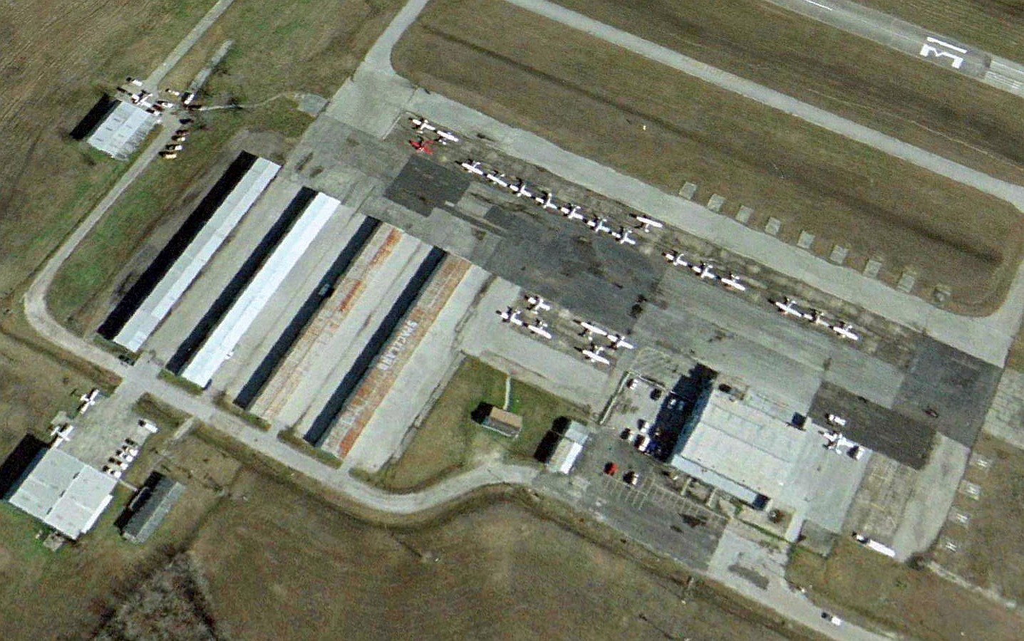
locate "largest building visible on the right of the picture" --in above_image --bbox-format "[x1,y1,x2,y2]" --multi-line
[668,363,811,509]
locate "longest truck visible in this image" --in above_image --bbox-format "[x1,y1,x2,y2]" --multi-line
[860,536,895,557]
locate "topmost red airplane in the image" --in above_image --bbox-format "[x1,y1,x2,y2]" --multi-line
[410,136,434,154]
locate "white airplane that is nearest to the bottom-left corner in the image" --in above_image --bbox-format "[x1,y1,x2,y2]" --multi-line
[54,425,74,447]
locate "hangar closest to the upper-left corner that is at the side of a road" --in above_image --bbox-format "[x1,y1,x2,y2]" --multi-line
[83,101,156,161]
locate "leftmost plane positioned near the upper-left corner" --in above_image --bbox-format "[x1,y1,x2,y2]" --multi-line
[132,92,151,107]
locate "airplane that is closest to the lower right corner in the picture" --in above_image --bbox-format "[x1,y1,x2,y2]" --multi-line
[824,430,856,455]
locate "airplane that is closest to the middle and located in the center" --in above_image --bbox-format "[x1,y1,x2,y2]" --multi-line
[501,309,523,325]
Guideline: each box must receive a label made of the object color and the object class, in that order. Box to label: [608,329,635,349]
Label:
white airplane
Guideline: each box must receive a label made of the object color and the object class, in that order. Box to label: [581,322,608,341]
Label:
white airplane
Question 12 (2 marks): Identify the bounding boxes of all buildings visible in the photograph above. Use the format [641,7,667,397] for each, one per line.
[668,363,811,509]
[543,421,588,474]
[178,192,340,387]
[481,407,522,435]
[83,101,156,161]
[122,475,185,542]
[248,222,403,420]
[42,534,64,550]
[318,253,471,459]
[110,158,280,352]
[3,448,116,540]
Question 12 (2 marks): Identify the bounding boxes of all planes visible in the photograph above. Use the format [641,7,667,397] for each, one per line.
[132,92,151,107]
[437,129,459,146]
[529,320,552,339]
[535,192,558,209]
[80,390,98,413]
[410,136,434,154]
[637,215,664,234]
[510,180,532,197]
[501,309,523,325]
[487,170,507,186]
[693,261,715,279]
[581,322,608,341]
[412,119,436,136]
[834,321,859,341]
[722,273,746,291]
[528,299,551,315]
[54,425,74,447]
[588,215,611,232]
[608,329,635,349]
[804,308,830,327]
[462,159,483,175]
[824,430,856,455]
[612,227,636,244]
[583,344,610,365]
[561,202,584,219]
[666,250,687,266]
[776,297,802,318]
